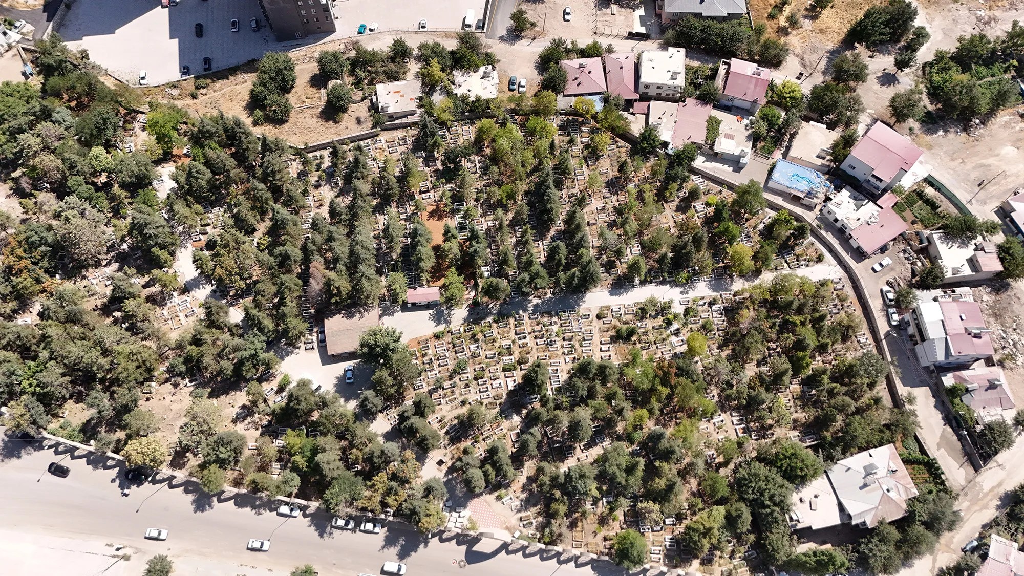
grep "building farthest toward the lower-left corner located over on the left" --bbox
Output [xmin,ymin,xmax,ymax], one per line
[324,306,380,357]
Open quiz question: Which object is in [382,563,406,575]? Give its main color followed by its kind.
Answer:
white vehicle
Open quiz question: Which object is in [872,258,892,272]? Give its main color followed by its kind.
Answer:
white car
